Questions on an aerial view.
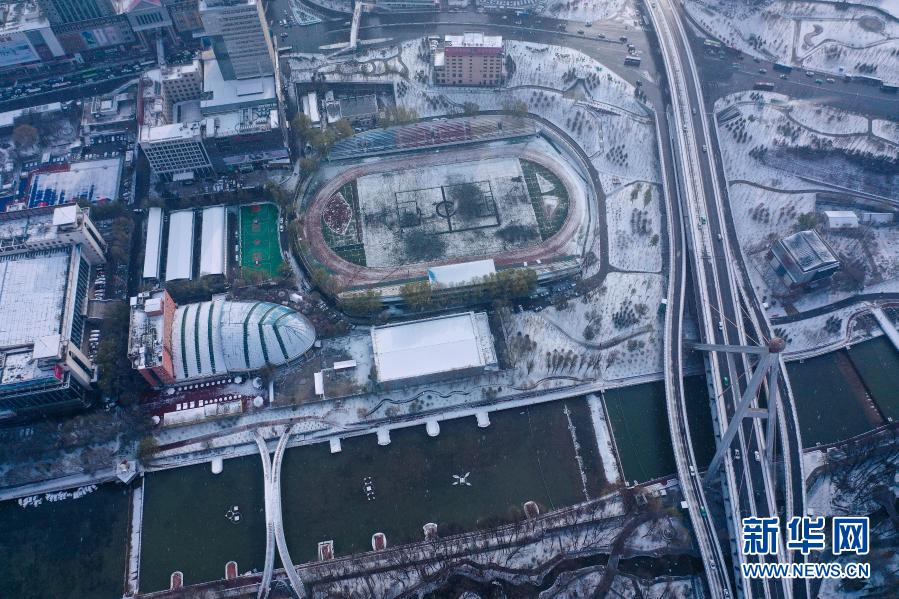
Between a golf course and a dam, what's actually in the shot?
dam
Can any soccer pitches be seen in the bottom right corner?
No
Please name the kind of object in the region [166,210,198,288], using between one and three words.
shed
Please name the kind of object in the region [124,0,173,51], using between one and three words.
building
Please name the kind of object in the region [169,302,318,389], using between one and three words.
building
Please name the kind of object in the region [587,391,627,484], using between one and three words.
dam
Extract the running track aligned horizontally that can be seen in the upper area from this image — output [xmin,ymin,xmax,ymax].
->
[306,152,587,274]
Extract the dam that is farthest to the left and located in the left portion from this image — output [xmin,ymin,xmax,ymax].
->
[124,473,146,599]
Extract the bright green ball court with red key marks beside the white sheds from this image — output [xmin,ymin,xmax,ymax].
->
[239,200,286,280]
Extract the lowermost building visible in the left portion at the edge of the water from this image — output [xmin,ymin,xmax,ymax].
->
[116,458,140,485]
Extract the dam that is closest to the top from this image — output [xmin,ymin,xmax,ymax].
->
[838,351,887,429]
